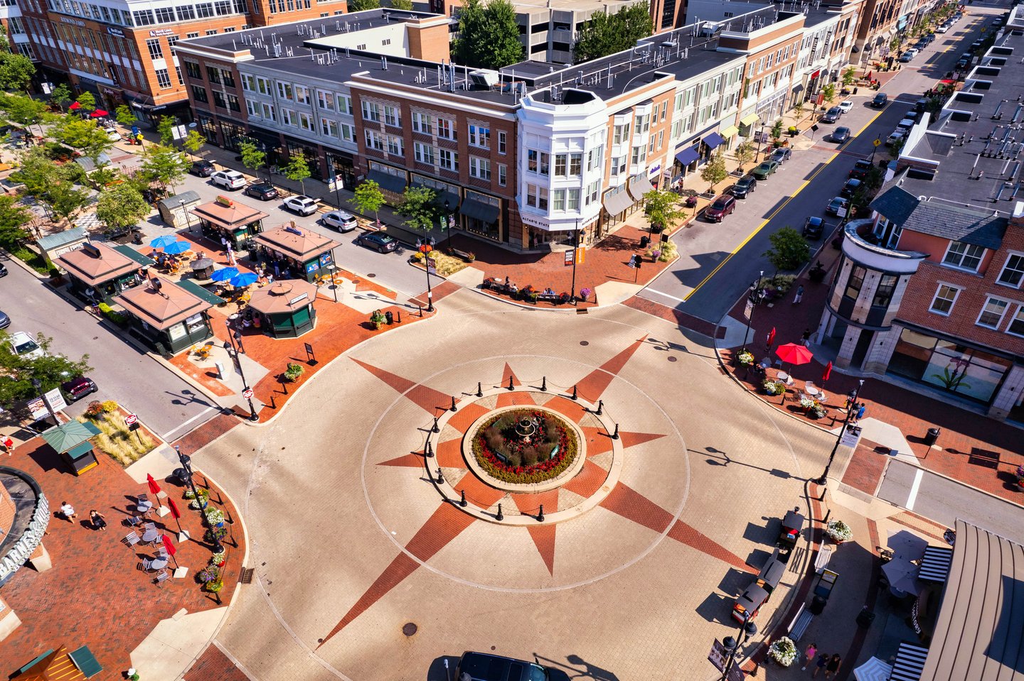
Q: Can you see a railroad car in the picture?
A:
Yes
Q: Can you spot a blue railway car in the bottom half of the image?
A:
No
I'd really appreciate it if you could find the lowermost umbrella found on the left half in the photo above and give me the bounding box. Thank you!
[167,542,192,581]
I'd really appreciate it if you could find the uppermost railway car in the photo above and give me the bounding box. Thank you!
[771,537,796,569]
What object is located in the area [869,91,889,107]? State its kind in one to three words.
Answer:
car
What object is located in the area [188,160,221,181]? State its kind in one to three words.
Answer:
car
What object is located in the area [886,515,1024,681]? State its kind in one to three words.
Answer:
building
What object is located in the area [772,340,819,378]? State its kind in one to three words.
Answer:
umbrella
